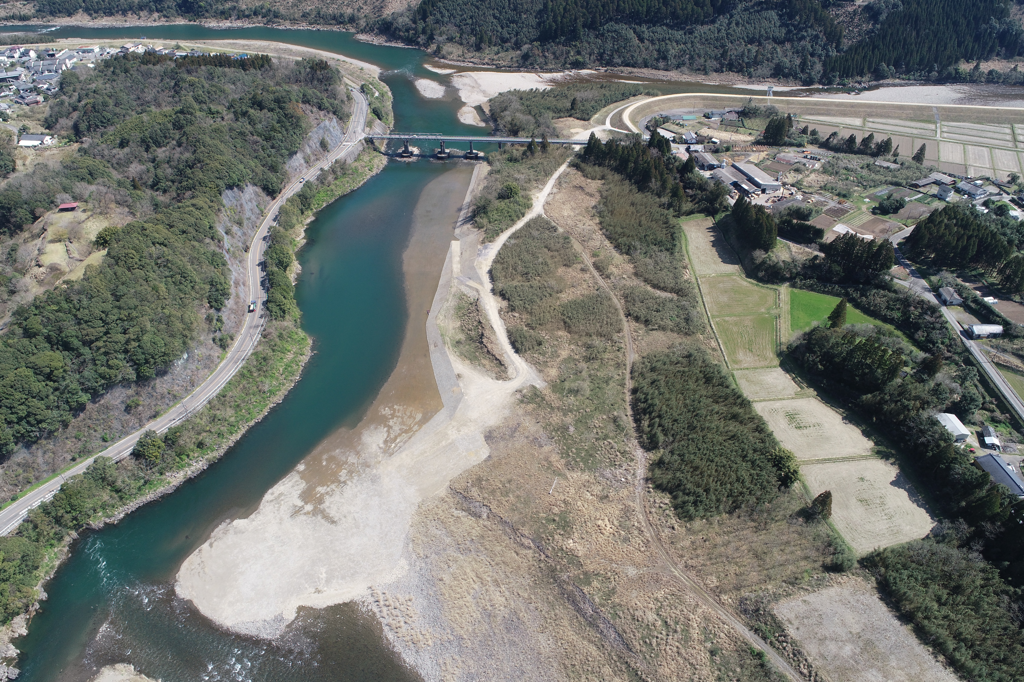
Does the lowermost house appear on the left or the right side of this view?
right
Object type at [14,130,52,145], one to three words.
house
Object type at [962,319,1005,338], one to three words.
building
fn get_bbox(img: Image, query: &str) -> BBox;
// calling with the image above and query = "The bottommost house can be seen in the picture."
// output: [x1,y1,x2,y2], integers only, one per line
[976,449,1024,496]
